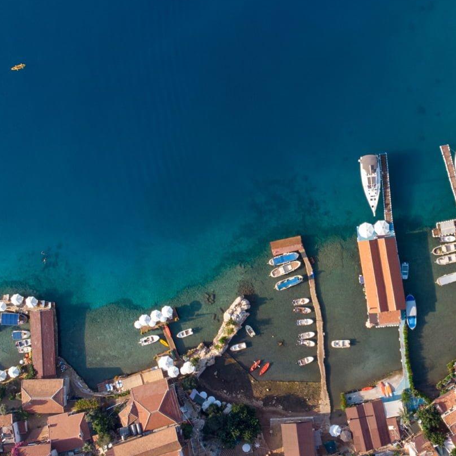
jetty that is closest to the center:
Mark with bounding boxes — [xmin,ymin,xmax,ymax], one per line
[270,236,304,256]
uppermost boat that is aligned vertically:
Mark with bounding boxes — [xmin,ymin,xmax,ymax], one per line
[361,154,381,216]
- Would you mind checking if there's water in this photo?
Yes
